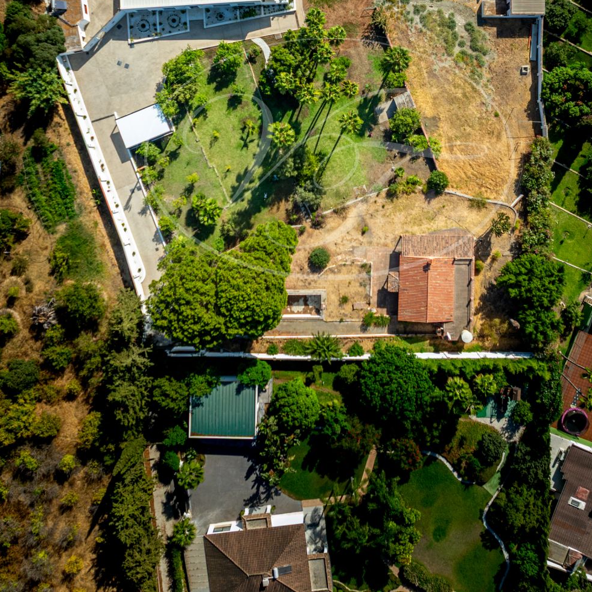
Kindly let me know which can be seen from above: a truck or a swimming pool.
swimming pool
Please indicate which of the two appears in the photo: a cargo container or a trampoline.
trampoline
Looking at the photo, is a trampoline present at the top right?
No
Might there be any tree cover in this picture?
Yes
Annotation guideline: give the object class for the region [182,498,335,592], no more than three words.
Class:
house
